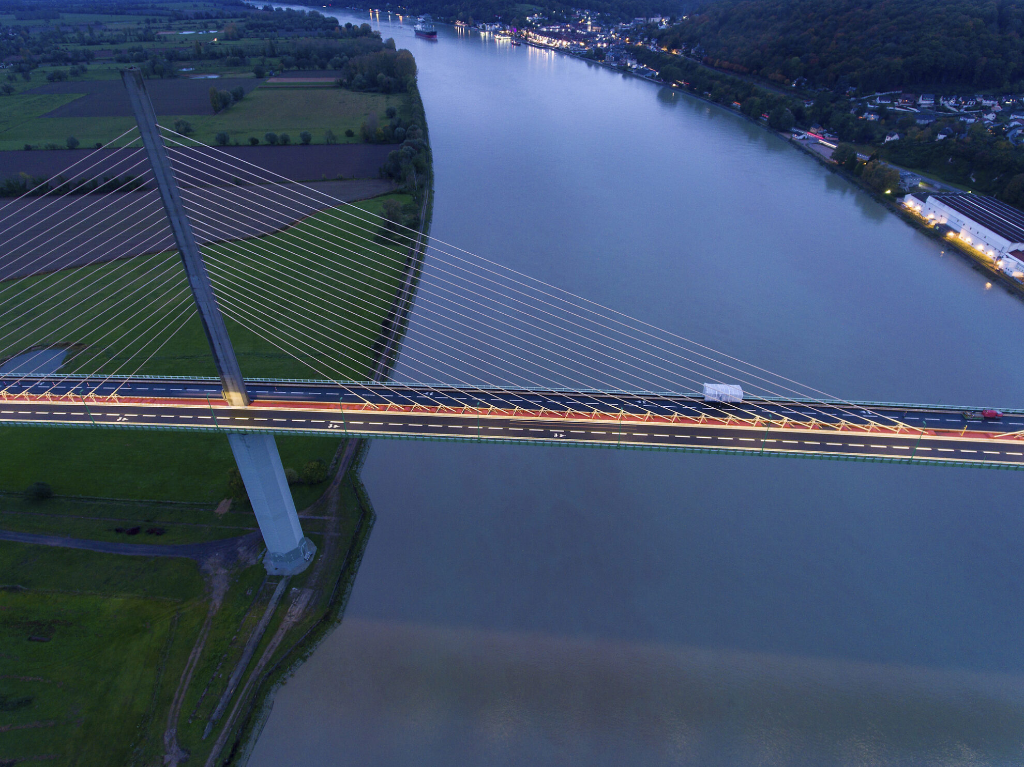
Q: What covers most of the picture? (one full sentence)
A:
The scene is dominated by water.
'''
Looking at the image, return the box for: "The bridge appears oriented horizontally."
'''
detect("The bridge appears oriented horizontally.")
[0,68,1024,567]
